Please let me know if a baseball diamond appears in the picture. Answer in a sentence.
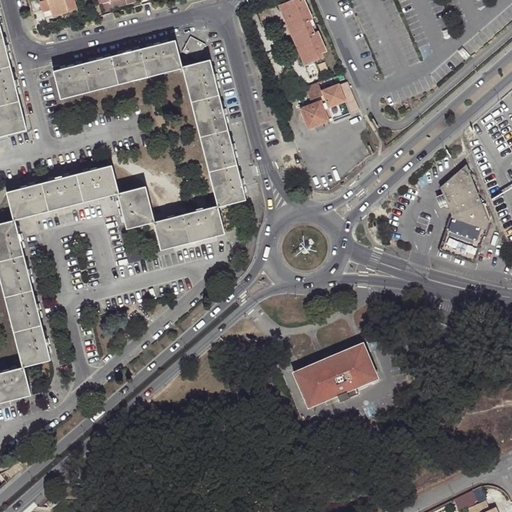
No, no baseball diamond can be seen from above.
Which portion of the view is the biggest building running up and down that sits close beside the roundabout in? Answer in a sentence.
Look in the top portion of the view to spot the biggest building running up and down that sits close beside the roundabout.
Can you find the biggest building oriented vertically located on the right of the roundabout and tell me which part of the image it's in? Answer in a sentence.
The biggest building oriented vertically located on the right of the roundabout is located in the right region of the scene.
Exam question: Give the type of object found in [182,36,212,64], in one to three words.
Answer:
building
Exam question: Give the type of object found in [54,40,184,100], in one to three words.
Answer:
building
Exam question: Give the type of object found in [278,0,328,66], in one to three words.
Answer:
house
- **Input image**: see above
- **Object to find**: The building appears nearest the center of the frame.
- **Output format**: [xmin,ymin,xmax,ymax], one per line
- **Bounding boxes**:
[155,207,227,250]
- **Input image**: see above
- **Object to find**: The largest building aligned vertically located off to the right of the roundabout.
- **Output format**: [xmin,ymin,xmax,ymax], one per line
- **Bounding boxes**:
[441,160,490,256]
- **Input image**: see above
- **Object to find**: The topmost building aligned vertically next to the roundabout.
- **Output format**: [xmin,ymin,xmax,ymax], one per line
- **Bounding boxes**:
[182,60,248,207]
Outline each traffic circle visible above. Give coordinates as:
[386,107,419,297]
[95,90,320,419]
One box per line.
[258,204,355,292]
